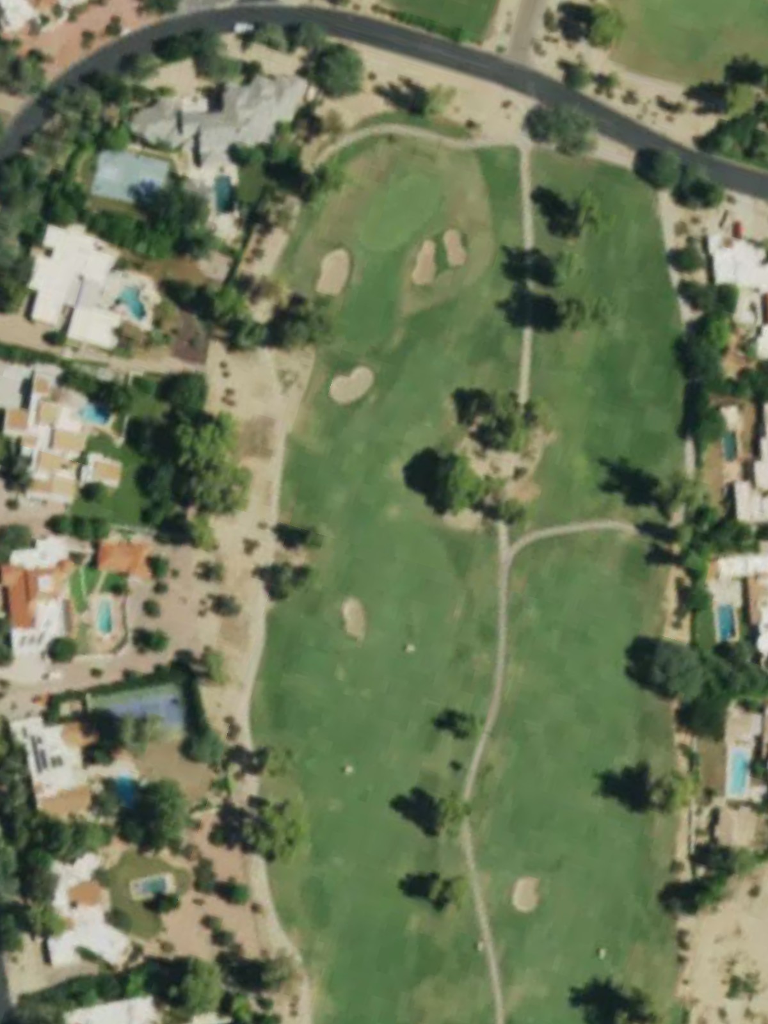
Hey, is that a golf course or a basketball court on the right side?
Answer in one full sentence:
Visible on the right side is a golf course.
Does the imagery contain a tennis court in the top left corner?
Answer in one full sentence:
Yes, a tennis court shows up in the top left corner.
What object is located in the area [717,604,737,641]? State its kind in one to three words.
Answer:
swimming pool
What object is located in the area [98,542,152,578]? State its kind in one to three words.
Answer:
building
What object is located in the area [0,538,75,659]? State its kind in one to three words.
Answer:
house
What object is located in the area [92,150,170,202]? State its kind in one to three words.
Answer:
tennis court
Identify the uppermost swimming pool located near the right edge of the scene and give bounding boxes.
[720,428,738,463]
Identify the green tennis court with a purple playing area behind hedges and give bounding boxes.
[86,682,184,748]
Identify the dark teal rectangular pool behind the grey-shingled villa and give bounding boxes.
[214,175,236,213]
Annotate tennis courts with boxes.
[92,150,170,202]
[86,682,184,748]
